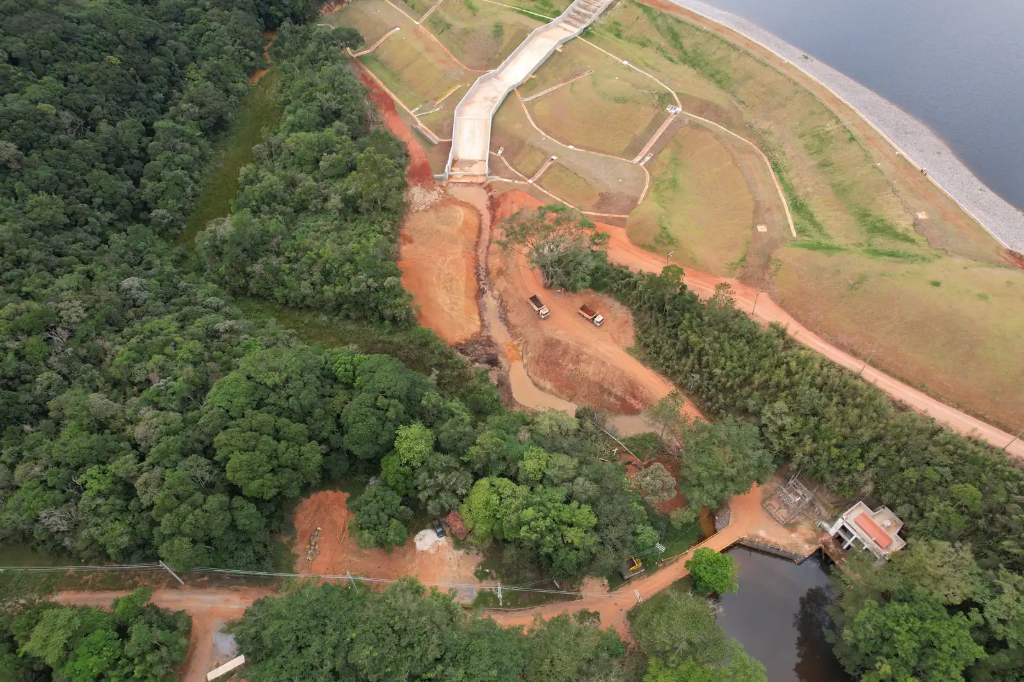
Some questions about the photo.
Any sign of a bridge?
Yes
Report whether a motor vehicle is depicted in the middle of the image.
Yes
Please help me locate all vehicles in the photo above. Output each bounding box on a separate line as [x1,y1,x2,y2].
[615,561,648,585]
[528,291,552,322]
[576,300,606,330]
[432,516,448,542]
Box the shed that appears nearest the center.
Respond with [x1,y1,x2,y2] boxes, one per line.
[441,511,474,549]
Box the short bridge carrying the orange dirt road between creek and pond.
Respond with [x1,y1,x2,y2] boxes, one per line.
[684,522,742,556]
